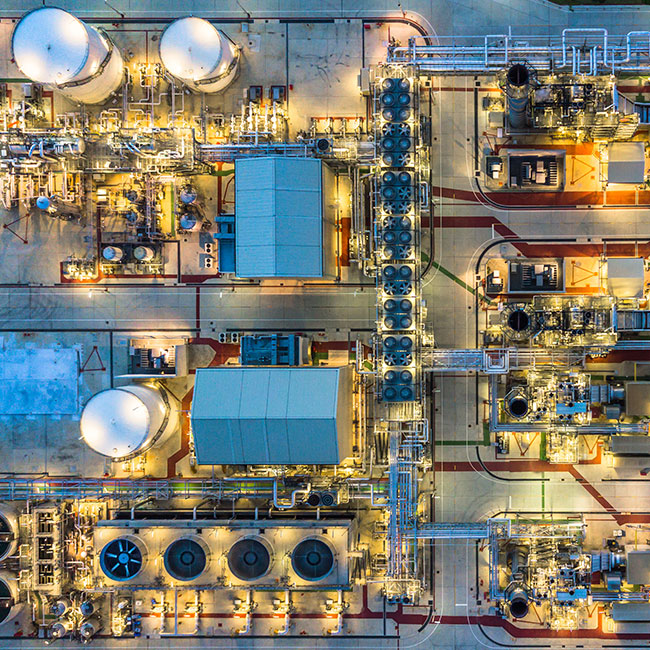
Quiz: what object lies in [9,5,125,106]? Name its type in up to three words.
storage tank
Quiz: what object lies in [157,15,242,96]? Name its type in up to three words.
storage tank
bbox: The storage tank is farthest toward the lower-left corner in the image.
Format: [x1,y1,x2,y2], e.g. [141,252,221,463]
[78,383,180,462]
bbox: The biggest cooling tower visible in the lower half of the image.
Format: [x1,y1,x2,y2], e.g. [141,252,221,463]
[90,493,372,590]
